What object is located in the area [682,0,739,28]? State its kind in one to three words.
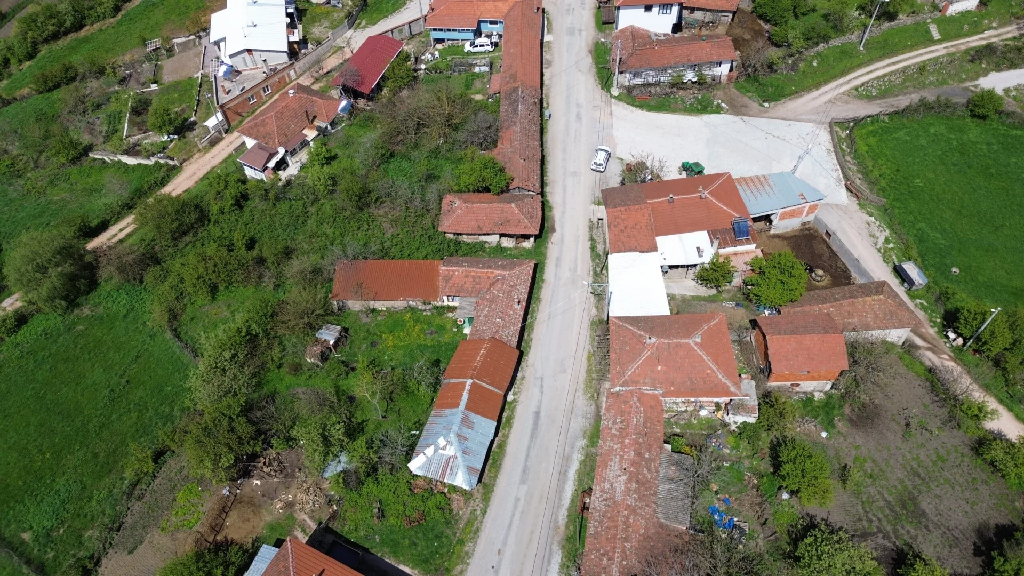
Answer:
barn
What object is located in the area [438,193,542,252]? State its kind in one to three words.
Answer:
house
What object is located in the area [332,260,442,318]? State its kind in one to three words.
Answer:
shed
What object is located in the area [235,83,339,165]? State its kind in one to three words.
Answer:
house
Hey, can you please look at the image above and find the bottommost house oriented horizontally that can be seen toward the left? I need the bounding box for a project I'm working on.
[260,529,363,576]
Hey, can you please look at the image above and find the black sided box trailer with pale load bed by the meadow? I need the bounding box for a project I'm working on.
[896,257,939,292]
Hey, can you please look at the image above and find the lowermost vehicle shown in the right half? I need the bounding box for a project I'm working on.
[943,328,968,348]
